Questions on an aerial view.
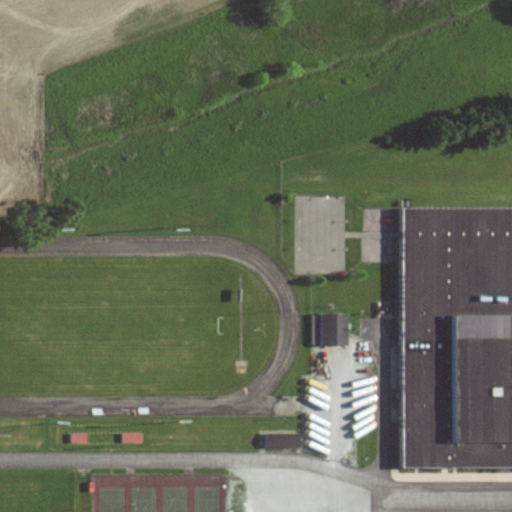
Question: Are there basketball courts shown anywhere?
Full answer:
Yes, a basketball court appears in the view.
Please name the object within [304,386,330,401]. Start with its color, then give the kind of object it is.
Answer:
white vehicle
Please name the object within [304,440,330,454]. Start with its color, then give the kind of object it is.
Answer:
white vehicle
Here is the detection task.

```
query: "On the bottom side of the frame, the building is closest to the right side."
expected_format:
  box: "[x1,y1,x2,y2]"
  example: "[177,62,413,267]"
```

[399,208,512,468]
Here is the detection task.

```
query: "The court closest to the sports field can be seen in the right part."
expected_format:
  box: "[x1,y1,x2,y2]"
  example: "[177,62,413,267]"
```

[294,195,346,273]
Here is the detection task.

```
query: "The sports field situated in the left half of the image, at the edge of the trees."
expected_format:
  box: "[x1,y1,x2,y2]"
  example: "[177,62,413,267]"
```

[0,256,280,397]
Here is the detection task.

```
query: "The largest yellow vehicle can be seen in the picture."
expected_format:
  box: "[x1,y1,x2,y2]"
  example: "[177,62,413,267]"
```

[303,378,329,392]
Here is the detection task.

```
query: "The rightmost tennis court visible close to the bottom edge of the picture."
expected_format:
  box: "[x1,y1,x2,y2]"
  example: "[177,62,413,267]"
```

[190,475,226,512]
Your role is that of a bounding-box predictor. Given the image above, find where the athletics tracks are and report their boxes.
[0,236,300,416]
